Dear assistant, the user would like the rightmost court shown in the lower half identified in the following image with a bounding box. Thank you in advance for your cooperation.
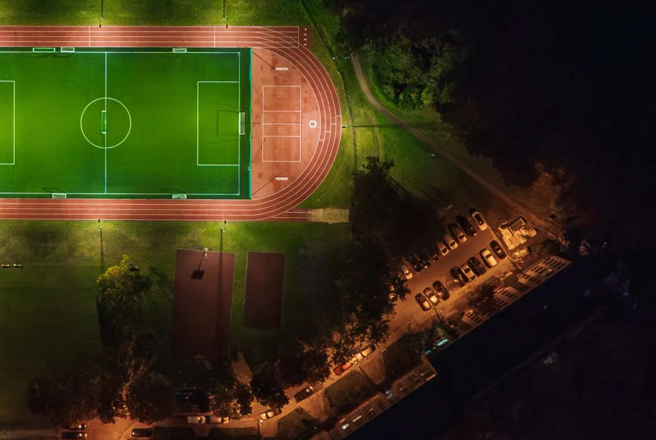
[243,252,285,329]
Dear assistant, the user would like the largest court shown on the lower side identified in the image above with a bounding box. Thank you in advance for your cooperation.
[171,249,234,359]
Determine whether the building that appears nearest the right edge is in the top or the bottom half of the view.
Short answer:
bottom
